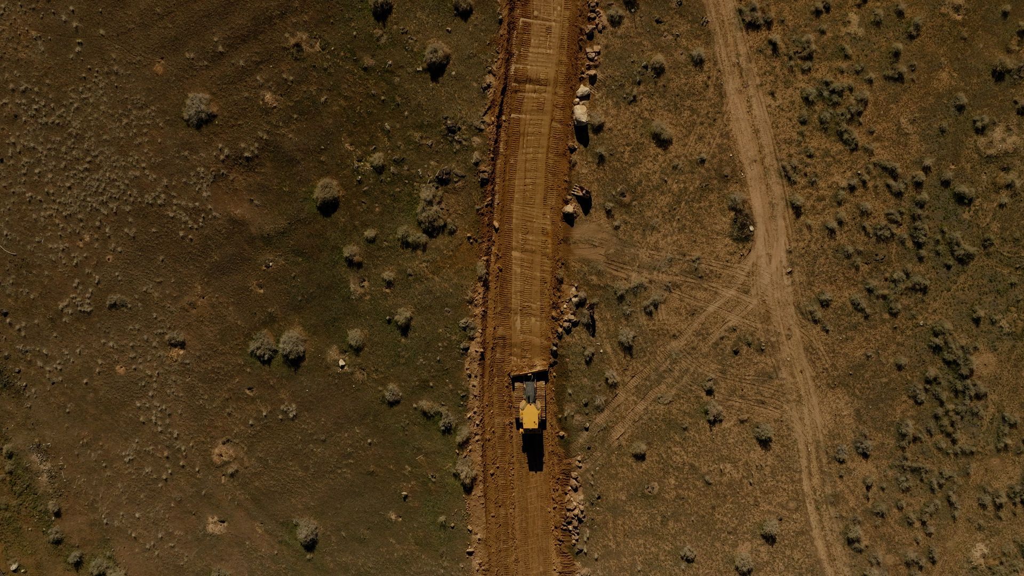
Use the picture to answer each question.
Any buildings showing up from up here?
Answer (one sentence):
No, the scene contains no building.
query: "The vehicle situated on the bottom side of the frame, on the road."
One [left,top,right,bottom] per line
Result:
[510,365,548,433]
